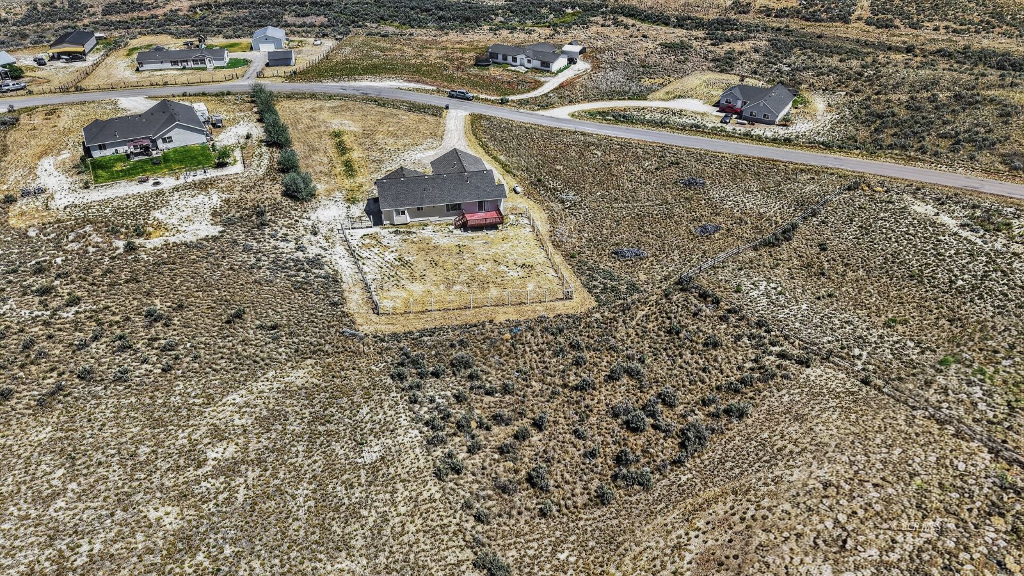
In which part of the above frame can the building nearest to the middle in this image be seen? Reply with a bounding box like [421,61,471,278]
[373,147,508,225]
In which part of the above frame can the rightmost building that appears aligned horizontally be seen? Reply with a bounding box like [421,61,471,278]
[717,83,810,125]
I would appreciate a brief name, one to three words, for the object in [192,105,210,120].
vehicle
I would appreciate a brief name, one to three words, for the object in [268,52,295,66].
shed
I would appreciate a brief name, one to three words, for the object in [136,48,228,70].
house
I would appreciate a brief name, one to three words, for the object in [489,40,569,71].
house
